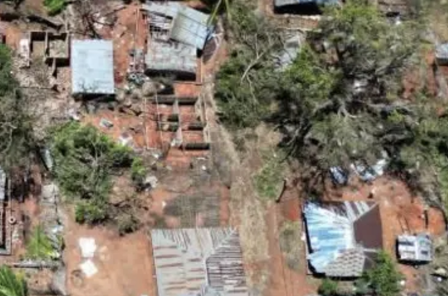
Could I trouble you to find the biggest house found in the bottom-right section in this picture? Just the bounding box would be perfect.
[299,200,382,278]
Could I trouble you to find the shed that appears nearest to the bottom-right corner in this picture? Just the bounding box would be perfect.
[388,236,432,264]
